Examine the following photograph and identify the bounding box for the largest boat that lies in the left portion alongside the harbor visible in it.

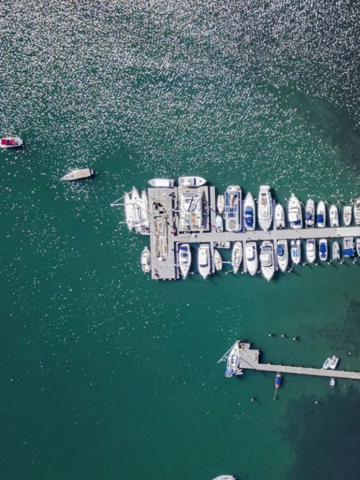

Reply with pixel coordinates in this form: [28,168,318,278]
[110,187,147,231]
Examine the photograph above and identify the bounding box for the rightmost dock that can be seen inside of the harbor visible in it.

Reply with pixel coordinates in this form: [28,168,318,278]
[177,187,209,231]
